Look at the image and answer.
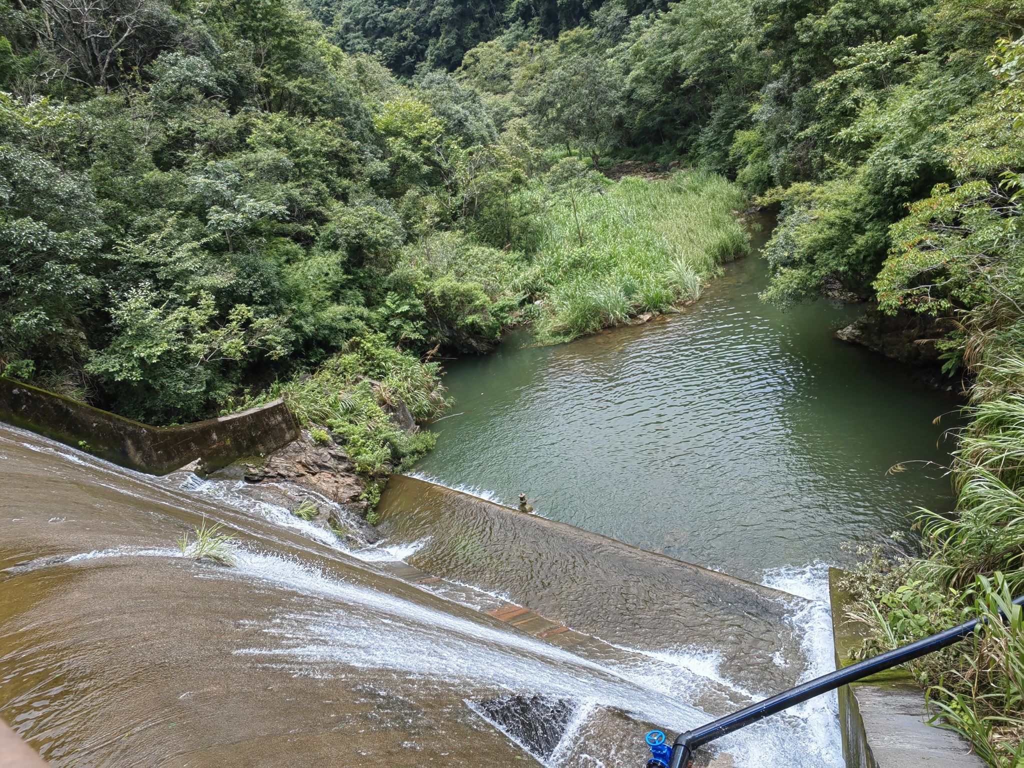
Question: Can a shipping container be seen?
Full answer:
No, there isn't any shipping container down there.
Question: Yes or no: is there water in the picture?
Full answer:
Yes, some water is visible.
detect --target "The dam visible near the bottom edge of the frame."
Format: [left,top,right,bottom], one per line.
[303,529,846,768]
